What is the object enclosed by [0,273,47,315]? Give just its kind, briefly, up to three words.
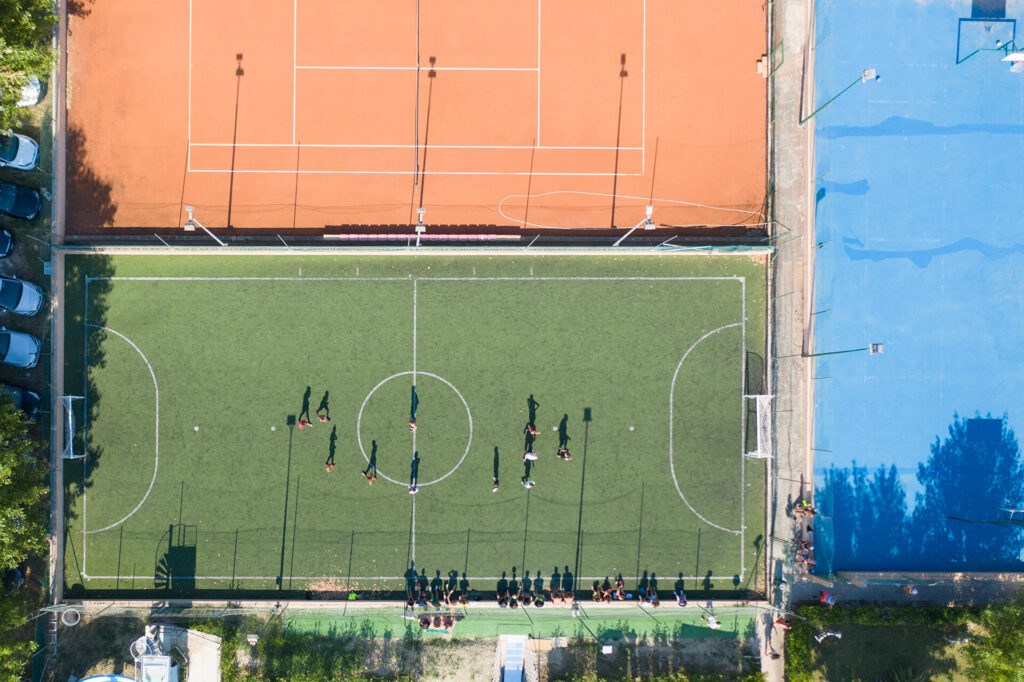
car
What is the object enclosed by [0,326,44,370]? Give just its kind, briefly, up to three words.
car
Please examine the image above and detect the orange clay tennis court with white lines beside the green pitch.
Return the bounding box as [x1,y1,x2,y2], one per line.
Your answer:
[65,0,766,240]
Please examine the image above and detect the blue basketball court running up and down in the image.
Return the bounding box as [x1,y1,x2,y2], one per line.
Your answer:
[818,0,1024,572]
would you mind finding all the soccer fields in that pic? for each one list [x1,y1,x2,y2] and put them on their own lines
[65,255,766,598]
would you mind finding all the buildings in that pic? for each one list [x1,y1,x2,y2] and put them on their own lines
[136,645,181,682]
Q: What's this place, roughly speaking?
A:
sports ground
